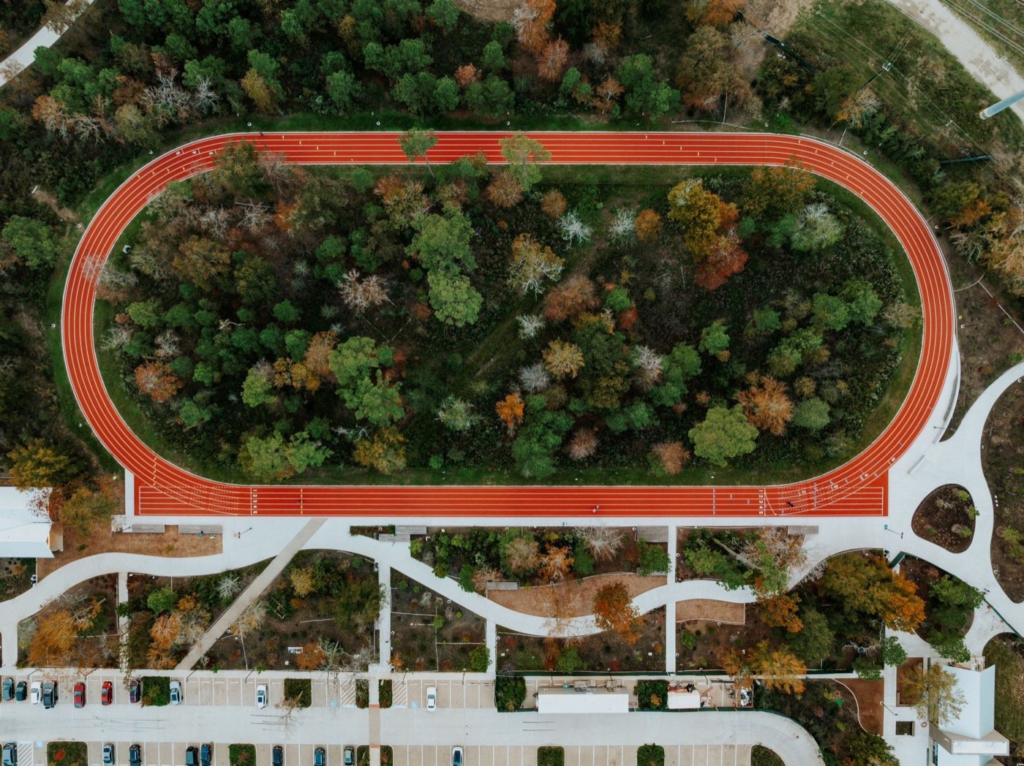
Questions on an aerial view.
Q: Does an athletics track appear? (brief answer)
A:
Yes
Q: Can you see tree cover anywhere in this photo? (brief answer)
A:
Yes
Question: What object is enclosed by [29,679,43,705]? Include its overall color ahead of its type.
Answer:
white car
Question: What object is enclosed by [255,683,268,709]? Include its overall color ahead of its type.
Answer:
white vehicle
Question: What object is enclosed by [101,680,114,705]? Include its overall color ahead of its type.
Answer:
red vehicle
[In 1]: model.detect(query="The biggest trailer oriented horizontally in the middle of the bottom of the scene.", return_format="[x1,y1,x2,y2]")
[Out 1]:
[540,686,630,715]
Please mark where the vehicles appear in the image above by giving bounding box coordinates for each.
[343,745,355,766]
[255,683,268,709]
[42,680,57,710]
[426,686,437,712]
[3,743,18,766]
[314,746,326,766]
[74,682,86,707]
[1,676,16,701]
[101,680,114,705]
[272,744,284,766]
[15,680,29,703]
[103,743,116,766]
[200,743,212,766]
[29,679,43,705]
[128,744,142,766]
[169,680,182,703]
[187,745,199,766]
[128,678,142,703]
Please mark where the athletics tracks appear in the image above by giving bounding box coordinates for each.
[60,131,956,517]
